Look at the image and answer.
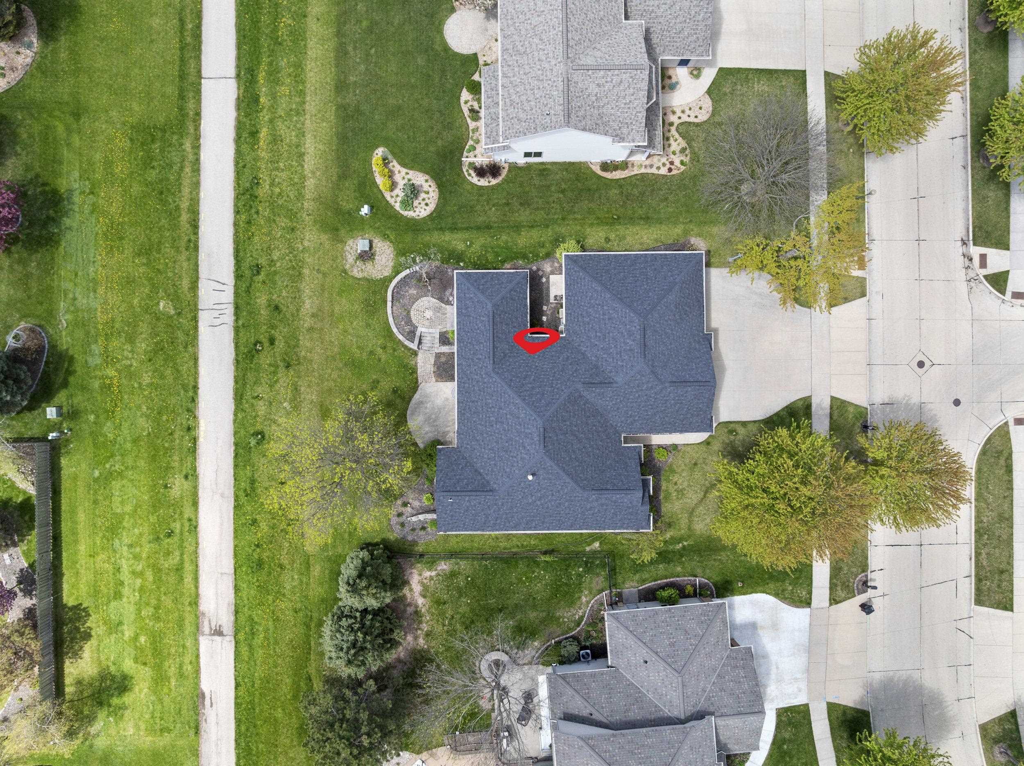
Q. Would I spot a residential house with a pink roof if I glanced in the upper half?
No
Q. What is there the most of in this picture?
grass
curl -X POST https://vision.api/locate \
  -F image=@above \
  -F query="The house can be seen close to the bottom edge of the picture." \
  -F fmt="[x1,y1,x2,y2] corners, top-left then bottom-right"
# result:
[537,570,766,766]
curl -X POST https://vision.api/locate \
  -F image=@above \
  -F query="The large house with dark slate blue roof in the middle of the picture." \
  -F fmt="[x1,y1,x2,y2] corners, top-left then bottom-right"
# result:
[435,250,718,533]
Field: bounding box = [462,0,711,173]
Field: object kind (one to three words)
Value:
house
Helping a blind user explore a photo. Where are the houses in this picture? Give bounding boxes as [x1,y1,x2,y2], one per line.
[537,570,766,766]
[435,250,718,533]
[462,0,711,173]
